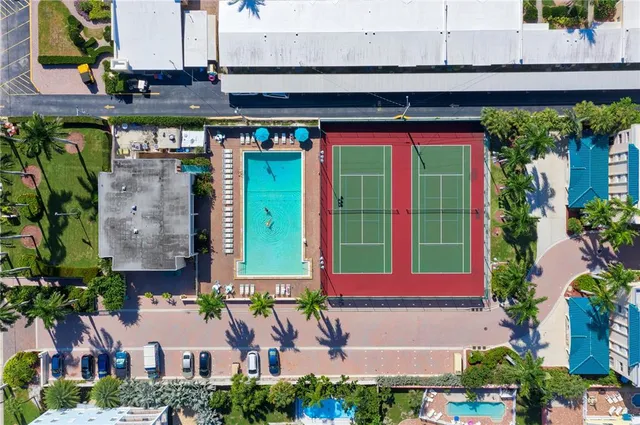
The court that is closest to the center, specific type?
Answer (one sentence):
The court that is closest to the center appears to be a tennis court.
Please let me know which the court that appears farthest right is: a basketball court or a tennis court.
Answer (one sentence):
From above, the court that appears farthest right can be identified as a tennis court.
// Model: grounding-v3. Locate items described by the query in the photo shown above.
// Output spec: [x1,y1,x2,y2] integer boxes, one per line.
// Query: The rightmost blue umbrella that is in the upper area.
[294,127,309,142]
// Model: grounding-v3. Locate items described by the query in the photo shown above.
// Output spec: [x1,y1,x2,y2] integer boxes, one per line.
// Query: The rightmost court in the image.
[407,145,478,273]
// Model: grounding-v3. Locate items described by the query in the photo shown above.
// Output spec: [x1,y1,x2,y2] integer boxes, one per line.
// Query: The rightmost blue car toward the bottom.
[268,348,281,376]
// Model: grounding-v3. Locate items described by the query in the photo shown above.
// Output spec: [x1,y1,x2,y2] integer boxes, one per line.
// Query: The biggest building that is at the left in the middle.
[99,159,198,270]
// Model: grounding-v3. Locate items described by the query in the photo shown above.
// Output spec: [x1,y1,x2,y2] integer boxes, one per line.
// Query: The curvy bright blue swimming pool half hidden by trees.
[302,396,356,419]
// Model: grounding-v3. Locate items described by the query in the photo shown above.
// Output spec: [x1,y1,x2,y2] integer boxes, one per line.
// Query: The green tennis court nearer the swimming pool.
[328,145,398,273]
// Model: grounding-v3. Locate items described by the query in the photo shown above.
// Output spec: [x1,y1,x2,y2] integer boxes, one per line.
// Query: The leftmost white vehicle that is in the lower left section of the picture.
[139,339,157,377]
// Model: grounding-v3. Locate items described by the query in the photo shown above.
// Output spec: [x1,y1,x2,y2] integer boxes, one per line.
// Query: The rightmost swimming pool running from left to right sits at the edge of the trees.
[446,401,506,422]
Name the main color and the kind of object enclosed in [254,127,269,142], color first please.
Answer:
blue umbrella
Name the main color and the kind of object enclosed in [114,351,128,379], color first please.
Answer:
blue vehicle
